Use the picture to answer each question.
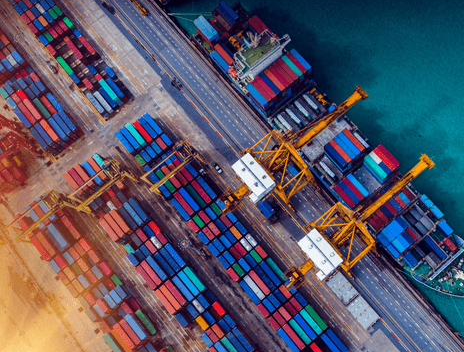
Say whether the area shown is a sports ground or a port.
port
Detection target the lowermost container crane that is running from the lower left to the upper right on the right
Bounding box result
[282,155,430,288]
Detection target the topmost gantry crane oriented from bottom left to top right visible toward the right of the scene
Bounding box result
[217,89,364,214]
